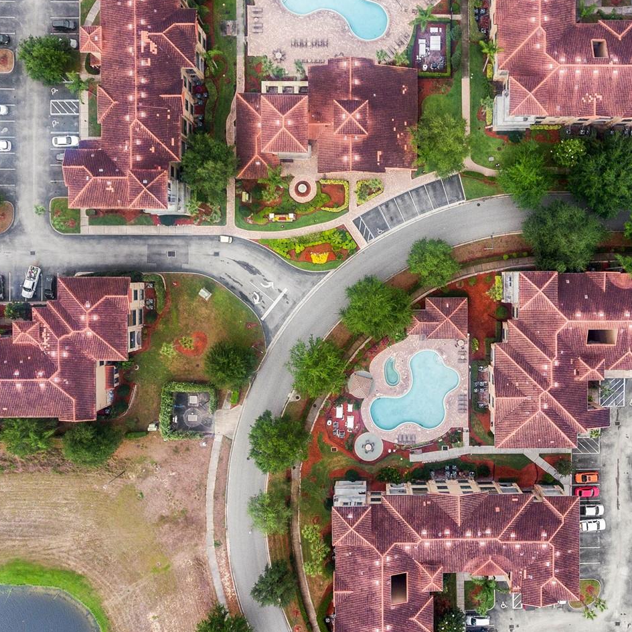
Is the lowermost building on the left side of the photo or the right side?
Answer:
right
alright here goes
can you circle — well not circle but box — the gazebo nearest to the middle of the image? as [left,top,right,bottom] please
[347,370,374,397]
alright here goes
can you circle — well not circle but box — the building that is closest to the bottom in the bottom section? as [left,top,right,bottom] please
[332,476,580,632]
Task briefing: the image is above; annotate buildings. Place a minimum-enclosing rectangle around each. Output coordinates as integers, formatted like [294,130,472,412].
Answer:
[407,297,468,339]
[332,476,580,632]
[491,271,632,448]
[60,0,207,215]
[235,52,417,179]
[492,0,632,130]
[0,275,150,423]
